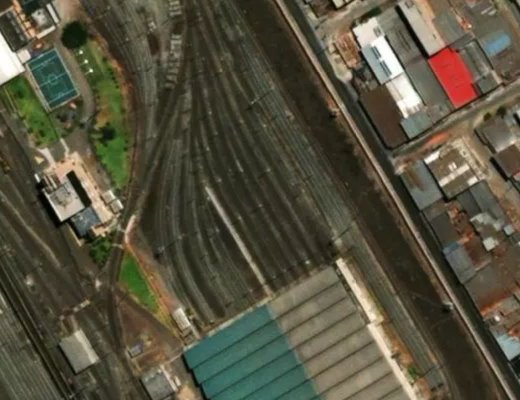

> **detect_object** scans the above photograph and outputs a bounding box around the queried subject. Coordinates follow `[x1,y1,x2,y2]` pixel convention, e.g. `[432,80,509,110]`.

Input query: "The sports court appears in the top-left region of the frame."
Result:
[25,47,81,112]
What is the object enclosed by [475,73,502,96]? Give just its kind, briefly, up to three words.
shed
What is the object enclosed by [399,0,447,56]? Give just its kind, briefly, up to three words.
building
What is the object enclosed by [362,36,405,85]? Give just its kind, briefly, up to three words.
building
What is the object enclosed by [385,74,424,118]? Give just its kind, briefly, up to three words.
house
